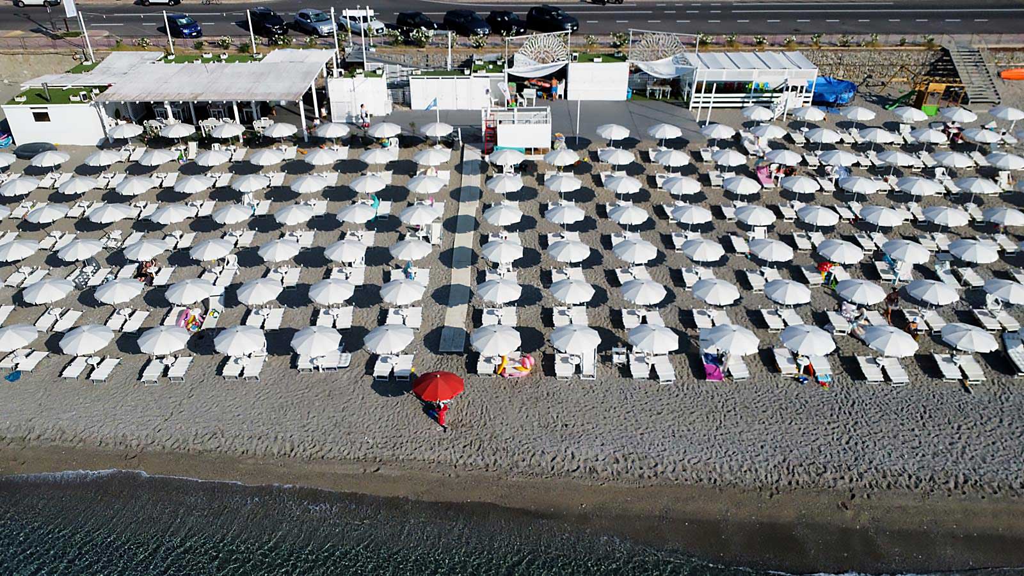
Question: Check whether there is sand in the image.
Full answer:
Yes, sand can be seen from above here.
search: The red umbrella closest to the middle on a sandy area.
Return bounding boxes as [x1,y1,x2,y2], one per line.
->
[411,369,466,417]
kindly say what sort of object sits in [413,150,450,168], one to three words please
umbrella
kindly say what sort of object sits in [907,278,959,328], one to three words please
umbrella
